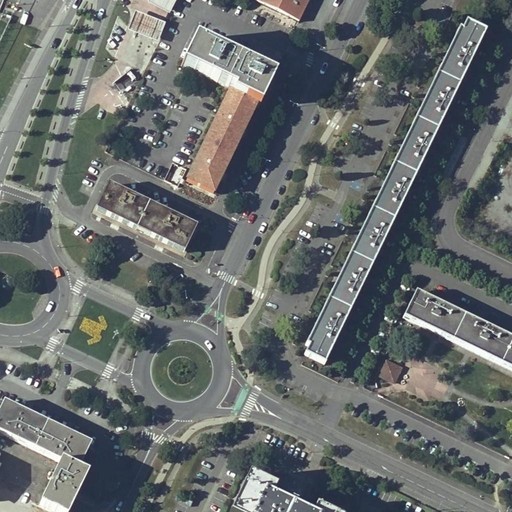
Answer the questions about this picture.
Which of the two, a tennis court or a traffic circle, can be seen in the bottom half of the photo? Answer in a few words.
traffic circle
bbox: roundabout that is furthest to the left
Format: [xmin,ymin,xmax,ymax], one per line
[0,234,64,346]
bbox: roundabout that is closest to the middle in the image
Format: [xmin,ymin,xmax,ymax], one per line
[132,320,232,421]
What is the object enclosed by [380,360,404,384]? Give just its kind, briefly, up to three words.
building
